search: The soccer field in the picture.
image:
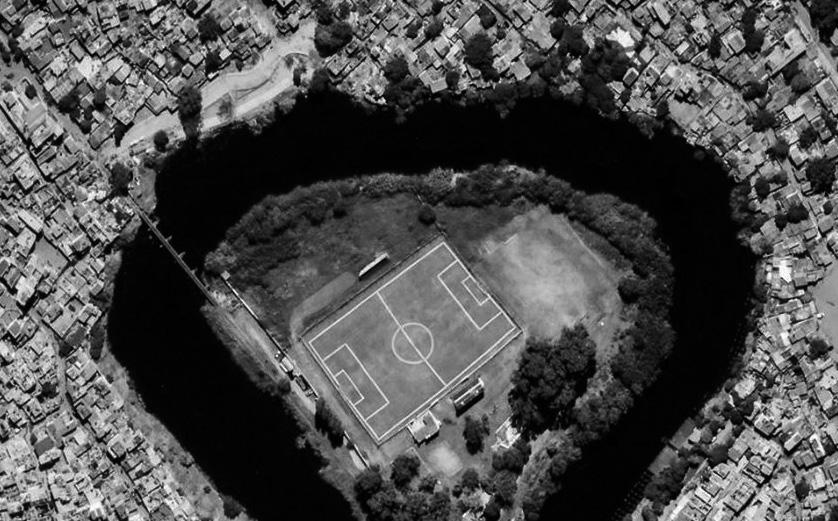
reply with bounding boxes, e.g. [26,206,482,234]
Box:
[302,236,520,443]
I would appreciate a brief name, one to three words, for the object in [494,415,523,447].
house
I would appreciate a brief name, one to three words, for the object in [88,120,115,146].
house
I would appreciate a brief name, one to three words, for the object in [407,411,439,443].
building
